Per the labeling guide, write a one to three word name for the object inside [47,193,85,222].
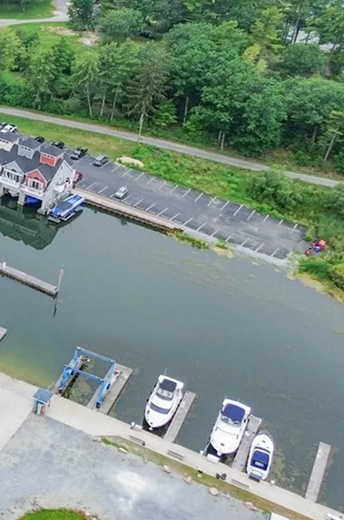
boat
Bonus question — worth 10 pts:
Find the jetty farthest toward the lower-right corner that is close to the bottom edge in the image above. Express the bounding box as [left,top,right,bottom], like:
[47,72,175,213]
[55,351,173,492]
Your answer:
[302,440,334,503]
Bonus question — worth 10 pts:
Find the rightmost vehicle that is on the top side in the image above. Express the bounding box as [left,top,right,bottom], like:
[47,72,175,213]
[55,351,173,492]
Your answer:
[114,183,131,199]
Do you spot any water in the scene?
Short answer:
Yes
